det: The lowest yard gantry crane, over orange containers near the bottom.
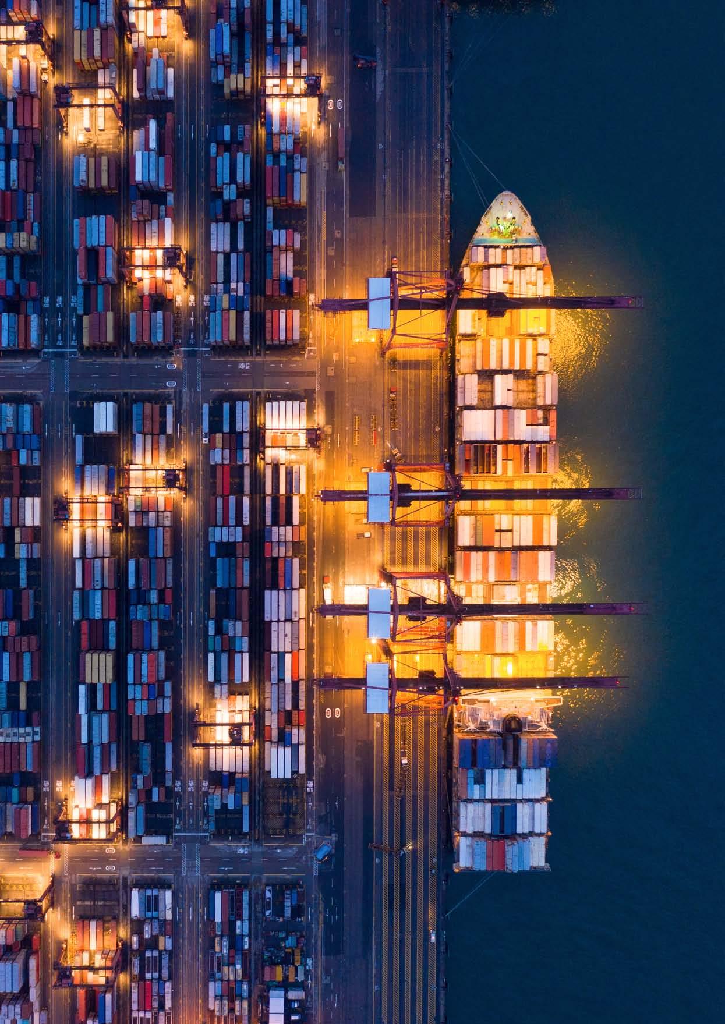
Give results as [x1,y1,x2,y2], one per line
[49,938,125,991]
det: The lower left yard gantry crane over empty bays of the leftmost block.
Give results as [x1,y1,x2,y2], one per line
[0,874,52,923]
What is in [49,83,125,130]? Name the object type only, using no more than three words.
container crane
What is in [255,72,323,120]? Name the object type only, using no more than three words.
container crane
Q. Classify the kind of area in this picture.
port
